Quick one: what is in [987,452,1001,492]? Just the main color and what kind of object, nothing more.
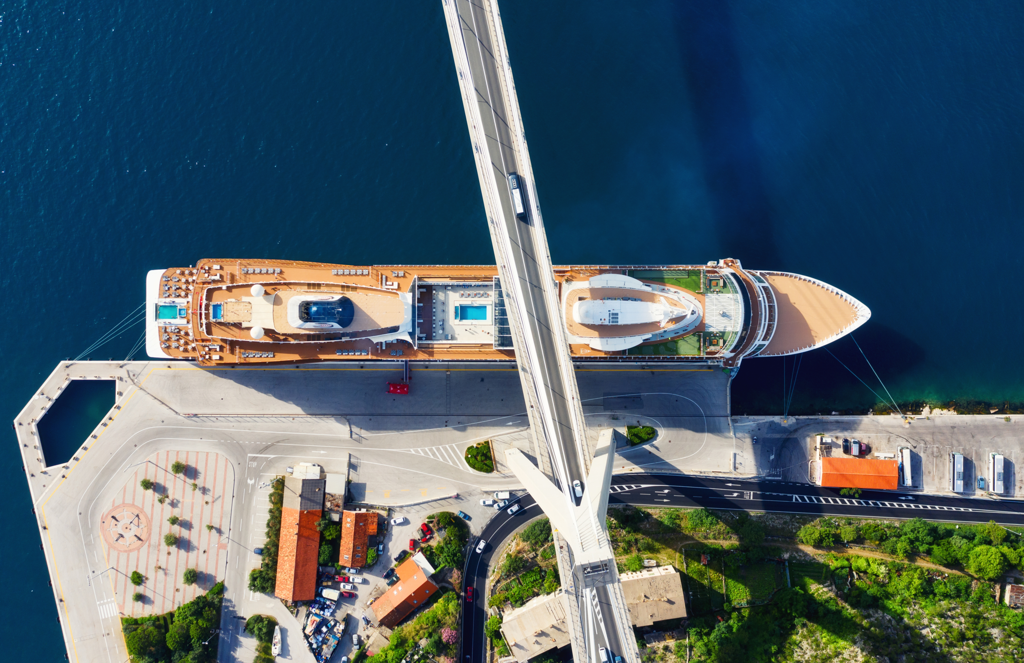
white vehicle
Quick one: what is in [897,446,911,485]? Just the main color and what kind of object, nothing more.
white vehicle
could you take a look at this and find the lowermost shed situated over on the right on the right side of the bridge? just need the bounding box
[644,626,685,646]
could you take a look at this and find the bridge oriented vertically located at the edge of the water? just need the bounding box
[442,0,641,663]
